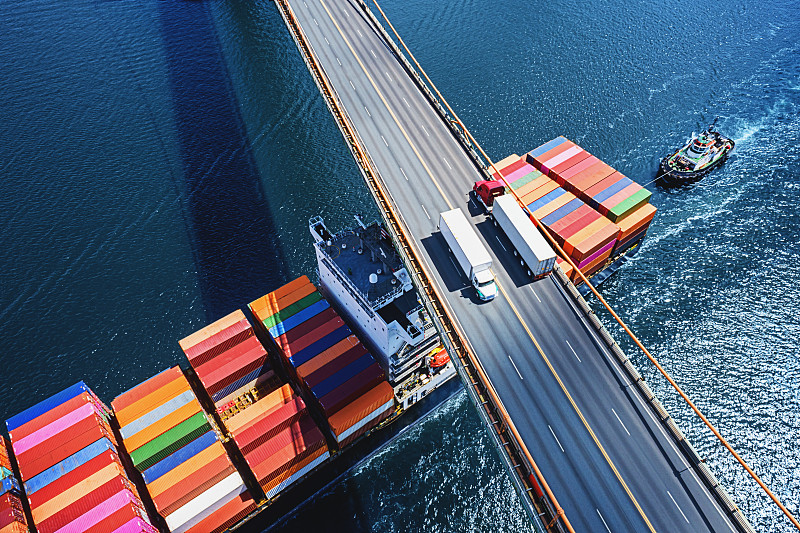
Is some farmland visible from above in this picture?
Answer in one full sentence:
No, farmland can't be seen anywhere here.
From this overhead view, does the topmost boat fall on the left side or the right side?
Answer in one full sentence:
The topmost boat sits on the right side.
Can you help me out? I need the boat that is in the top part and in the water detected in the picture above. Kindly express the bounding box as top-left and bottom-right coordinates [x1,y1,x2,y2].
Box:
[656,120,740,188]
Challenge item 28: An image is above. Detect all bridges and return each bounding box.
[273,0,800,533]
